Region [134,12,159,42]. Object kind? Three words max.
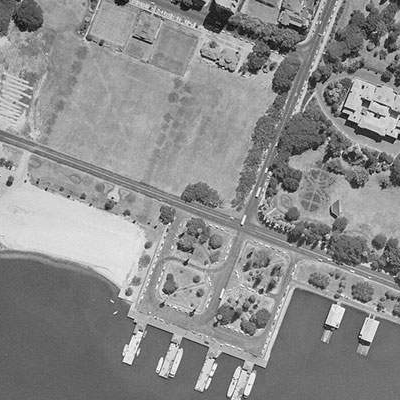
building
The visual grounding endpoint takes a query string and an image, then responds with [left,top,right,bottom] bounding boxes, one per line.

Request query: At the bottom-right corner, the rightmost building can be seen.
[356,312,379,357]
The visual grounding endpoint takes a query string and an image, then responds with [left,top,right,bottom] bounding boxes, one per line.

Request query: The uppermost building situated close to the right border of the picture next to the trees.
[341,79,400,140]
